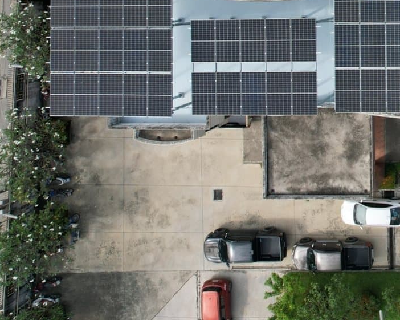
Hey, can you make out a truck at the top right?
No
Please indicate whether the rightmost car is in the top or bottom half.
bottom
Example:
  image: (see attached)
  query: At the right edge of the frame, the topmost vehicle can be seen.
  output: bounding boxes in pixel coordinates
[342,198,400,235]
